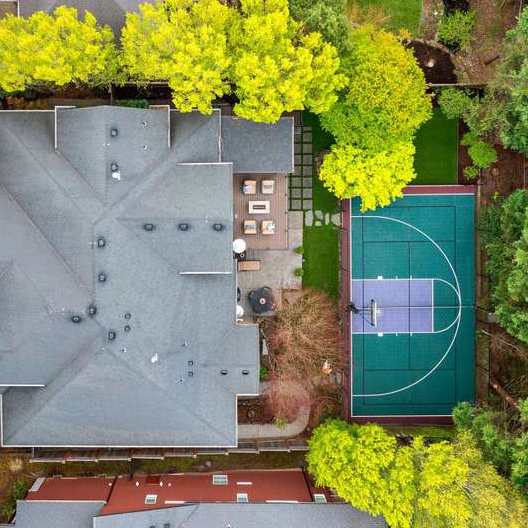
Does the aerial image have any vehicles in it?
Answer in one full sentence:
No, no vehicle is visible in the view.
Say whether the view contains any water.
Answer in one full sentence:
No, the picture contains no water.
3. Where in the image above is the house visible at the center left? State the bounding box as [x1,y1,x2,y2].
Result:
[0,105,262,448]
